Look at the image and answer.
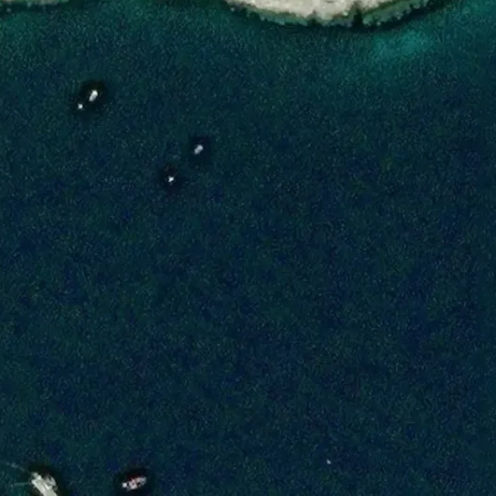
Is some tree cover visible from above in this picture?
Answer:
No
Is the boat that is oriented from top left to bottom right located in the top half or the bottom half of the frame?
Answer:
bottom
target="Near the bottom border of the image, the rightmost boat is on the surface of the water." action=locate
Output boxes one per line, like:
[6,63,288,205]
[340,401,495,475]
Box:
[126,475,147,487]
